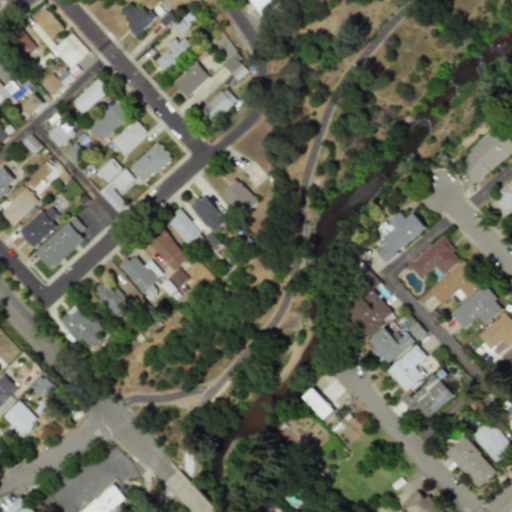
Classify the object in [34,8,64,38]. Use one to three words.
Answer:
house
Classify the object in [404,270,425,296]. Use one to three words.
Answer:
swimming pool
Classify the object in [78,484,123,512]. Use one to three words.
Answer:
house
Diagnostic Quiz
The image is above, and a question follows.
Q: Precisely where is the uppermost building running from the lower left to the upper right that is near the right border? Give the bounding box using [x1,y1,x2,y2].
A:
[464,138,510,182]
